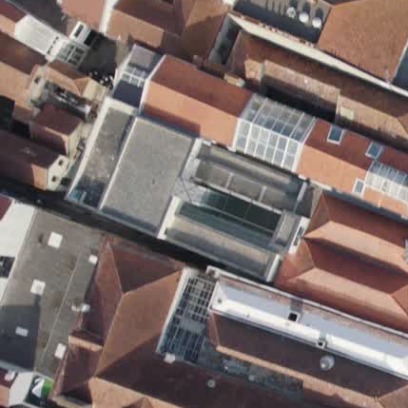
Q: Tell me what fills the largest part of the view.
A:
buildings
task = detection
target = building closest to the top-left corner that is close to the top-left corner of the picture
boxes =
[0,0,36,34]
